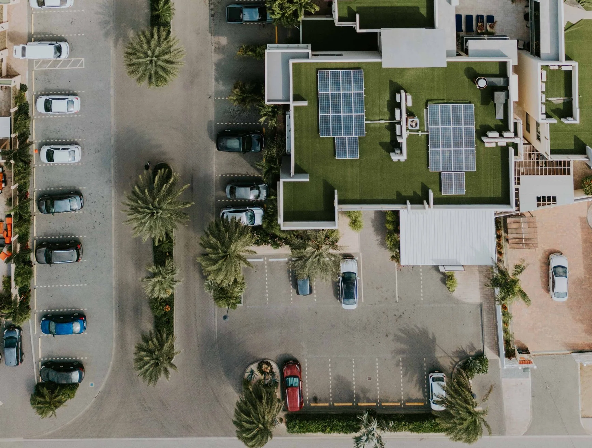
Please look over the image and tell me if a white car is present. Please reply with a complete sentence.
Yes, a white car can be made out from above.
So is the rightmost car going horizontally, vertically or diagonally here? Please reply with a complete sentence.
The rightmost car runs vertically in the image.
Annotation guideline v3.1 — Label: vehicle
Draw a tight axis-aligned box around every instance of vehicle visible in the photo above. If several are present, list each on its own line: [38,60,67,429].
[547,252,571,301]
[428,370,446,410]
[41,312,86,337]
[217,130,265,153]
[220,203,264,227]
[14,40,70,61]
[39,191,83,216]
[226,180,268,203]
[280,360,304,414]
[37,240,82,267]
[37,94,80,116]
[40,361,85,385]
[30,0,73,10]
[338,258,361,309]
[1,327,24,367]
[293,253,314,296]
[41,143,81,165]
